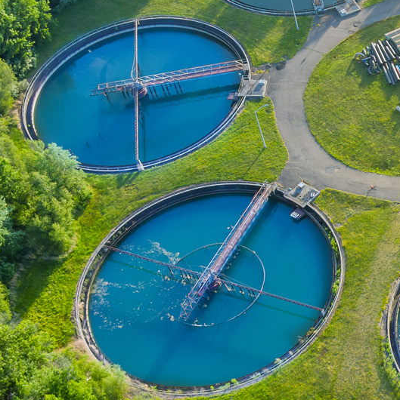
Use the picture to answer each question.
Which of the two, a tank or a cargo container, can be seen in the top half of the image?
tank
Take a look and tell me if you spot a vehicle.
No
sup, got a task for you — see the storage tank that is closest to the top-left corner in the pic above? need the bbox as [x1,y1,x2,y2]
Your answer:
[18,13,253,172]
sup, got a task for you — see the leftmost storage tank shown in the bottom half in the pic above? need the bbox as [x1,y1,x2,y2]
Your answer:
[73,179,345,396]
